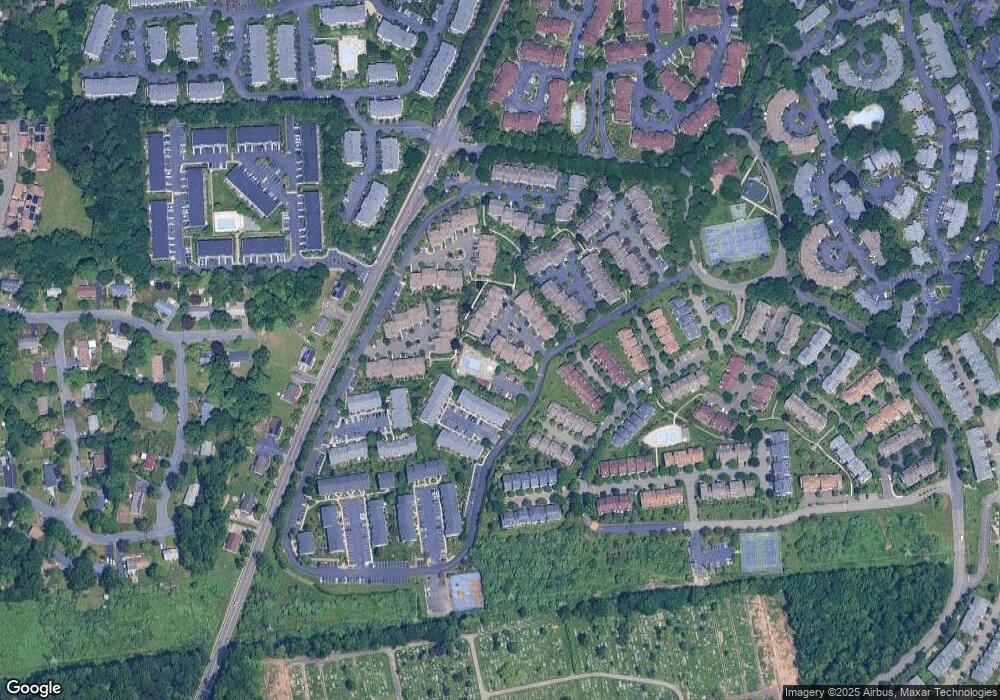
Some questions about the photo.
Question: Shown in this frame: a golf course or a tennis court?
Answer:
tennis court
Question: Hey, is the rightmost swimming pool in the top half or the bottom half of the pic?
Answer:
top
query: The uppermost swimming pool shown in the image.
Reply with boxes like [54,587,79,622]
[339,35,366,71]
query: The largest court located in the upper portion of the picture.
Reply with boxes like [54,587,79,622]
[700,216,774,266]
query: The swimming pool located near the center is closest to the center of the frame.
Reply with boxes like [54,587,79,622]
[458,347,497,382]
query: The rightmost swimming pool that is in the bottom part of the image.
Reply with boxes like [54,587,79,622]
[645,425,683,447]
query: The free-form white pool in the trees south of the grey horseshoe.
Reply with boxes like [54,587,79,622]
[843,103,885,129]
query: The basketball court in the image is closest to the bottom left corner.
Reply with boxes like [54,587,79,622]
[450,571,484,612]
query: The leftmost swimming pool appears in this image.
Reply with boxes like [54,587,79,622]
[213,211,243,232]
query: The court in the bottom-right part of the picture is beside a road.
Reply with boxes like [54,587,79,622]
[739,531,782,574]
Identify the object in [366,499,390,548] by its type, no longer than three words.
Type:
building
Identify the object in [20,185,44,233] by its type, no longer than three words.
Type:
house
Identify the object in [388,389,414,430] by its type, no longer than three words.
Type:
building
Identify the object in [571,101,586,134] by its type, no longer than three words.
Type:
swimming pool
